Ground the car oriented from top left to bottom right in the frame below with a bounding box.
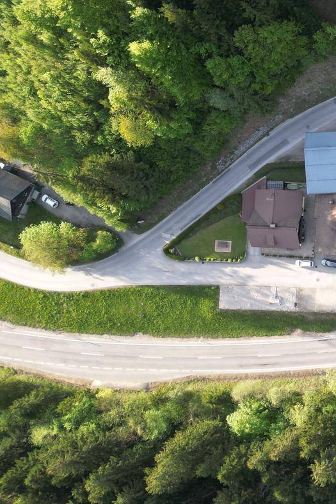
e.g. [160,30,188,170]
[40,194,58,207]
